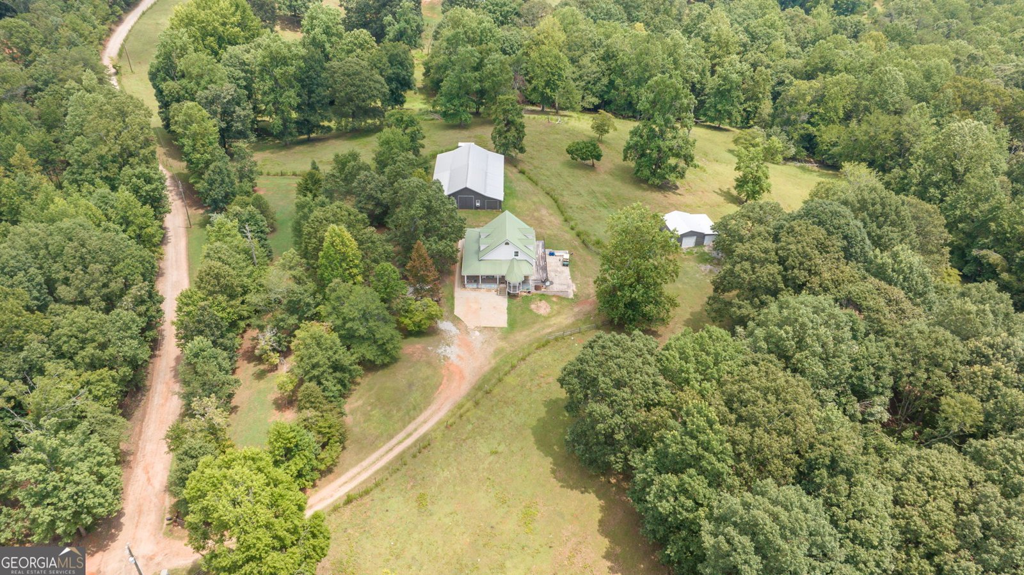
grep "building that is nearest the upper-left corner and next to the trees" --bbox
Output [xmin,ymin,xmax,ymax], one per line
[431,141,504,210]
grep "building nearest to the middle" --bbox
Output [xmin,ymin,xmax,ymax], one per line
[460,209,535,291]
